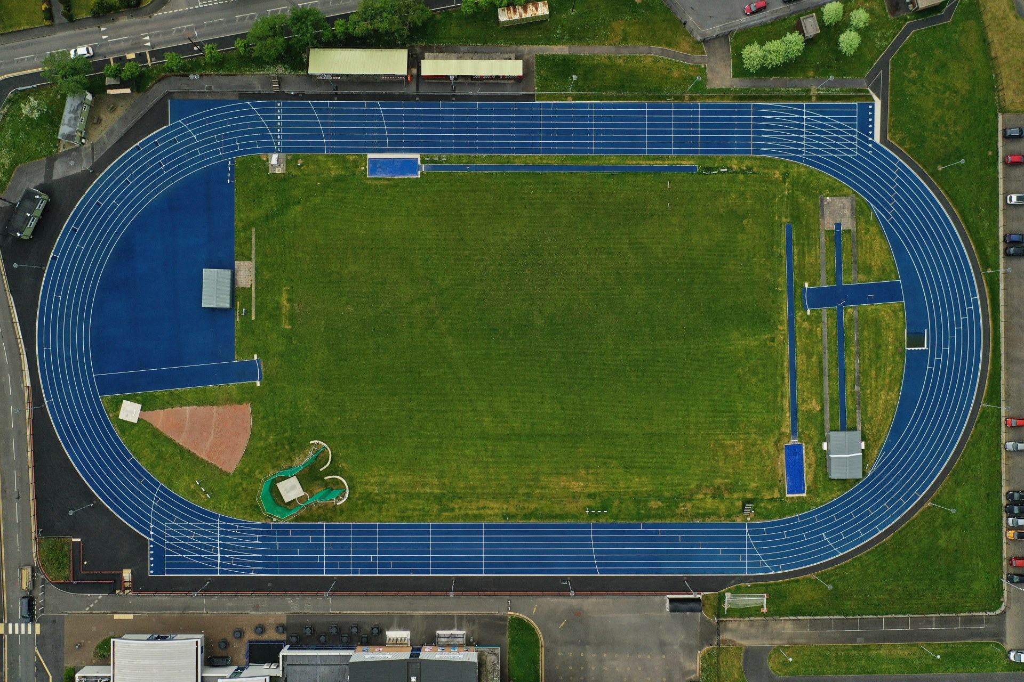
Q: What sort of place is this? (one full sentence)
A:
The area seen from above is a sports ground.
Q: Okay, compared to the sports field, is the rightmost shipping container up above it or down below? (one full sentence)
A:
The rightmost shipping container appears above the sports field in the picture.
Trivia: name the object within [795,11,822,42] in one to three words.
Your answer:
shed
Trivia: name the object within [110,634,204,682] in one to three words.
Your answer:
building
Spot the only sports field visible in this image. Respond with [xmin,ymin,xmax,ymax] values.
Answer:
[100,154,906,523]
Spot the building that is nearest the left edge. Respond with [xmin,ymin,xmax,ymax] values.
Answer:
[5,187,51,239]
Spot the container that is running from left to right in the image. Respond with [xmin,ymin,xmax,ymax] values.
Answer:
[498,0,549,27]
